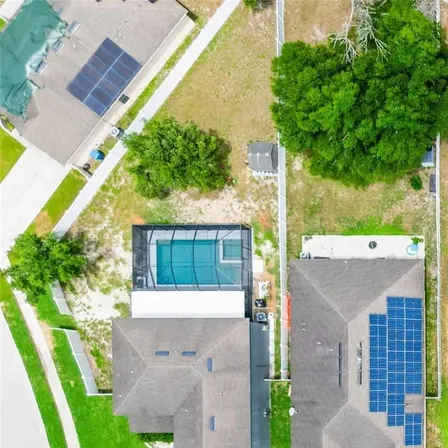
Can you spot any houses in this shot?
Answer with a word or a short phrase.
Yes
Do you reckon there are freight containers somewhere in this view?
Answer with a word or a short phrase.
No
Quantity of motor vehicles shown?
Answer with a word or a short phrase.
0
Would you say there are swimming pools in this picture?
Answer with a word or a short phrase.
Yes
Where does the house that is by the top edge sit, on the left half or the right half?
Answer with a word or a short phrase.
left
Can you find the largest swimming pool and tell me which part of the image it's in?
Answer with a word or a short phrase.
center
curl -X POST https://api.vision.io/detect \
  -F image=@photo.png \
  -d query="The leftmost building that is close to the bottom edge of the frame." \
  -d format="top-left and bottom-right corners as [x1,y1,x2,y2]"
[112,290,269,448]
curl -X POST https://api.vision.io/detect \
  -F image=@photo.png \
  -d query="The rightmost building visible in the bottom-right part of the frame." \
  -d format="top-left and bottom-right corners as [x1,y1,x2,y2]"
[287,259,425,448]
